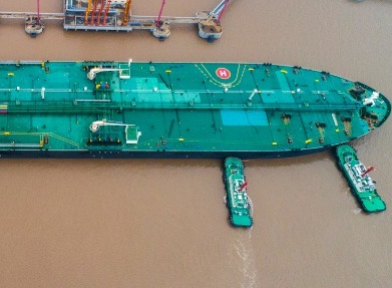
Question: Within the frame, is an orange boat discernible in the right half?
No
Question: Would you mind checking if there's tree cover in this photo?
No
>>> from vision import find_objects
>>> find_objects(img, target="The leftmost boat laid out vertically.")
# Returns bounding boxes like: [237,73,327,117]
[223,155,254,229]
